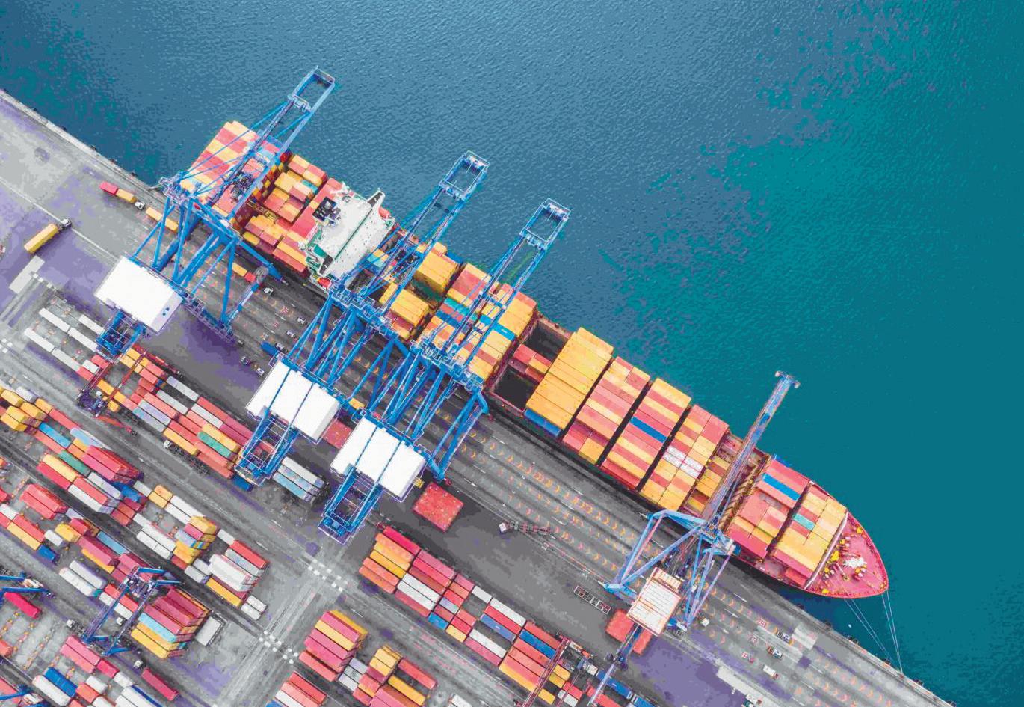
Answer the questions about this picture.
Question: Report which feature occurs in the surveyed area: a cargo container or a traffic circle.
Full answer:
There is a cargo container in the scene.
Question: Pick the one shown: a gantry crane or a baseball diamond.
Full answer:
Looking from above, you can make out a gantry crane.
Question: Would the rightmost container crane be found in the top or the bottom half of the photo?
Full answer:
The rightmost container crane is in the bottom half of the image.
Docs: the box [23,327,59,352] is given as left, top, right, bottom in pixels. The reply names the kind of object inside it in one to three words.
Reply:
shipping container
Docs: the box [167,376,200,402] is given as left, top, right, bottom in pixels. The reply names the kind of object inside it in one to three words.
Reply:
shipping container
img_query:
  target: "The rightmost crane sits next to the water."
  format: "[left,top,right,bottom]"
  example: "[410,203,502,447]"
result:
[591,366,806,707]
